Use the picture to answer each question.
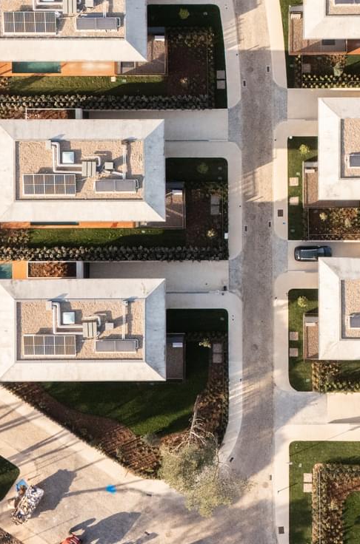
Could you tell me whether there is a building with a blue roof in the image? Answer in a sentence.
No, no building with a blue roof is visible in the view.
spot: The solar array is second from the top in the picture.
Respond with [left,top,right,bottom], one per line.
[22,174,75,198]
